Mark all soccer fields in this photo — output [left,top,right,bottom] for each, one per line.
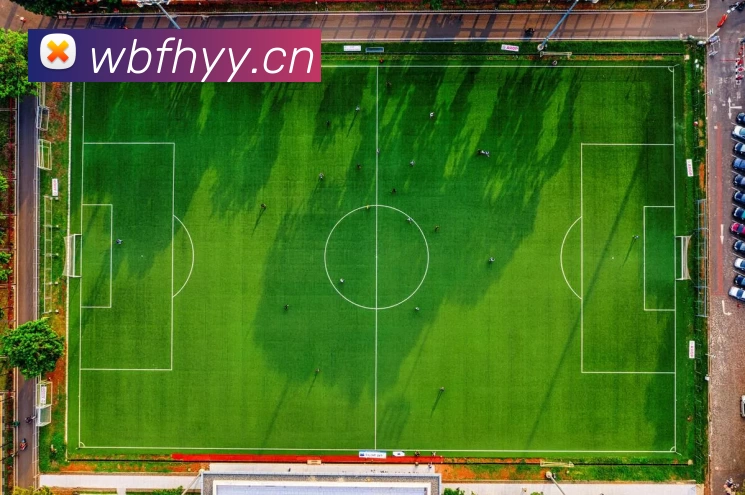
[68,60,685,457]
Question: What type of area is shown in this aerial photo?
sports ground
